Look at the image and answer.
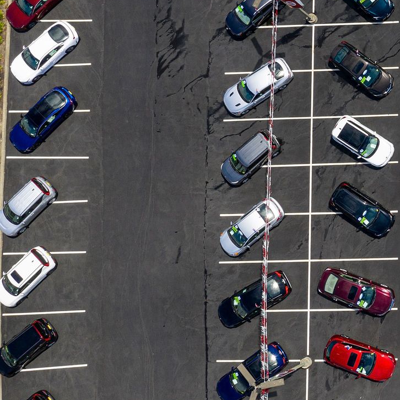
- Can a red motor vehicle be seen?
Yes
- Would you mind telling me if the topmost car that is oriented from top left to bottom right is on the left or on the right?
right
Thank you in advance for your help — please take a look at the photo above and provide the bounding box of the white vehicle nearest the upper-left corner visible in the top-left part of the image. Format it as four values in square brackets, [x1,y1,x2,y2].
[9,23,79,85]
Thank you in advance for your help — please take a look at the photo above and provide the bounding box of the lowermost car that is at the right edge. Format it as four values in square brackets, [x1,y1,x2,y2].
[324,333,396,382]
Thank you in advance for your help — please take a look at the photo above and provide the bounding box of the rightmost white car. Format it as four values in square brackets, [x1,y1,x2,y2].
[332,115,393,166]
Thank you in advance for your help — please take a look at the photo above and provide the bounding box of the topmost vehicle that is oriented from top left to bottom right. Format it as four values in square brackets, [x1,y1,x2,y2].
[329,40,393,98]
